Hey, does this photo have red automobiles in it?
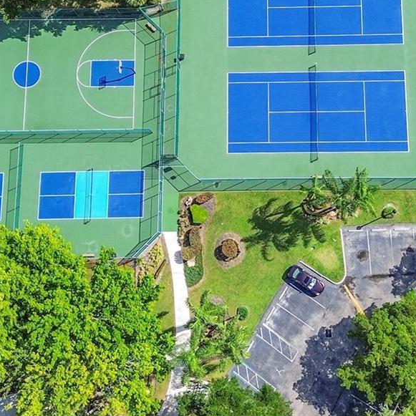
No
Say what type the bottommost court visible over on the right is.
tennis court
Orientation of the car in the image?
at an angle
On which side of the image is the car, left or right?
right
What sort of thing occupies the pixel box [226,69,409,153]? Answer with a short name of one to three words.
tennis court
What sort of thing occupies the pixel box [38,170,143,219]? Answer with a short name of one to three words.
sports court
